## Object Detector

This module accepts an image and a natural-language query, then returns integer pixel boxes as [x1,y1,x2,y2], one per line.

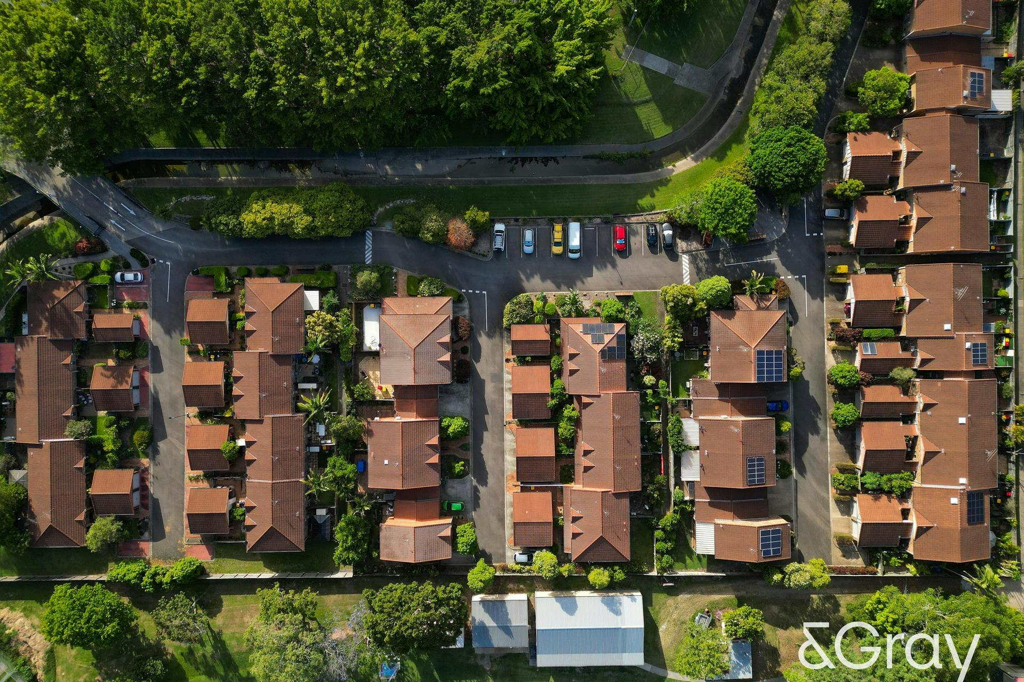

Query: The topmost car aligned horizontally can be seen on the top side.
[822,207,849,220]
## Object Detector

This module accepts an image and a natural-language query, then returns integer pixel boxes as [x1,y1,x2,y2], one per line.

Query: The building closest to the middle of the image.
[510,324,551,356]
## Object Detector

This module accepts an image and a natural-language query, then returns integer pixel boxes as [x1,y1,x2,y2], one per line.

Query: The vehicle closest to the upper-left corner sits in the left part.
[115,271,144,283]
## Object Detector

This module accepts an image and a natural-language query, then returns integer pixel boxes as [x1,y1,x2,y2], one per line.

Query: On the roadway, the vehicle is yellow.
[551,222,564,255]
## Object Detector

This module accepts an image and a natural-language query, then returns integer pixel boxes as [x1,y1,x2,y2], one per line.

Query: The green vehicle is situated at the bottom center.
[442,500,465,512]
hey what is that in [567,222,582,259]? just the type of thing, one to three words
vehicle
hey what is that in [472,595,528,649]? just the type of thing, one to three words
shed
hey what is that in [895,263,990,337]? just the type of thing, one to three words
house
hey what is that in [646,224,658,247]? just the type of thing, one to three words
vehicle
